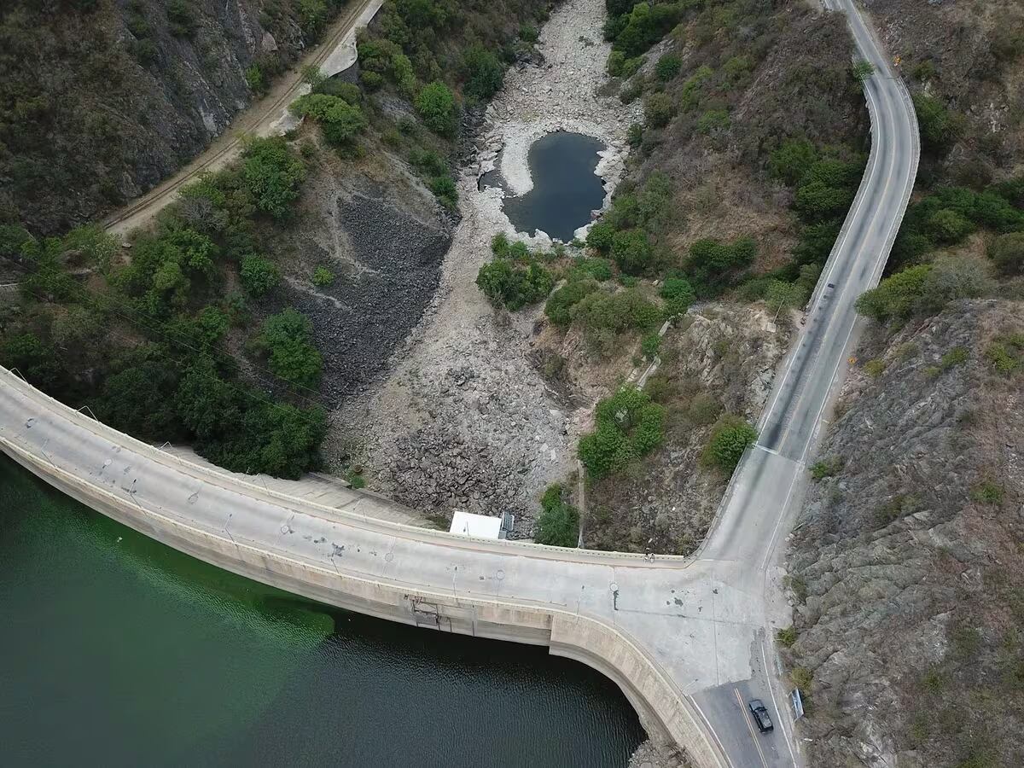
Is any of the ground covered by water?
Yes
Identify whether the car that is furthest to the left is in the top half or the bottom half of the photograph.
bottom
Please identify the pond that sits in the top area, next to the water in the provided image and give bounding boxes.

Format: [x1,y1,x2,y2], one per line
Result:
[479,132,606,243]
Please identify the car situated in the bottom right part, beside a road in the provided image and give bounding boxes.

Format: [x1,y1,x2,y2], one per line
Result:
[749,698,774,737]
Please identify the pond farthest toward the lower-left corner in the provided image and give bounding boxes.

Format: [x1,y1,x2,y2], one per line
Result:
[0,451,657,768]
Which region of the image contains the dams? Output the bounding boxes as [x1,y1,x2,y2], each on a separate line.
[0,348,775,768]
